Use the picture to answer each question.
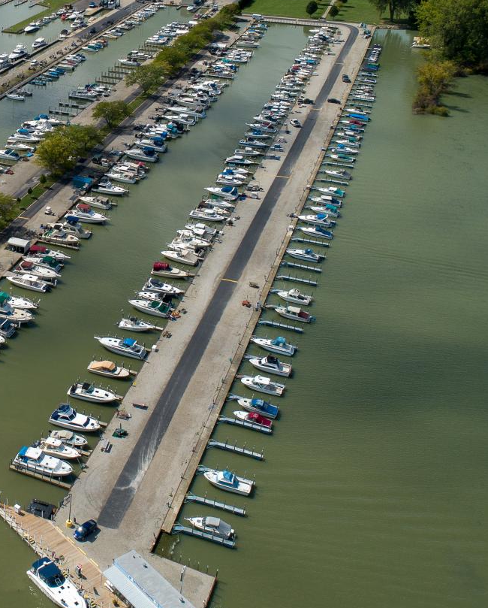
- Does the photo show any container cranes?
No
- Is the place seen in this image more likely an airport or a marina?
marina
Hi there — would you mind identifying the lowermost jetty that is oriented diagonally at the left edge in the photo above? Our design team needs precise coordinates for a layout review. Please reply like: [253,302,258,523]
[0,505,118,608]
